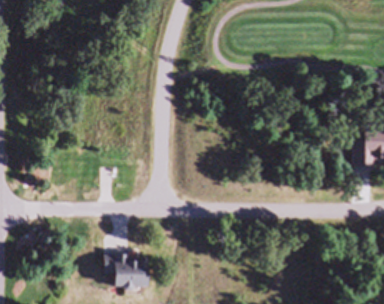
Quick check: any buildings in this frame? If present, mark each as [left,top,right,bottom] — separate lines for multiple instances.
[364,132,384,166]
[104,254,149,291]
